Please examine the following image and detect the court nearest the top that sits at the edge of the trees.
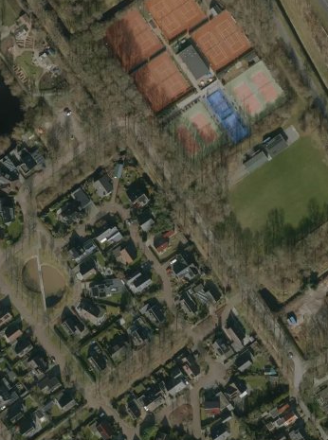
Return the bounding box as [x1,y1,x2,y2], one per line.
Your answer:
[144,0,207,40]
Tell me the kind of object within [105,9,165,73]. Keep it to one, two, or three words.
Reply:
tennis court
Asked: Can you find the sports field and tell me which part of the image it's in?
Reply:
right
